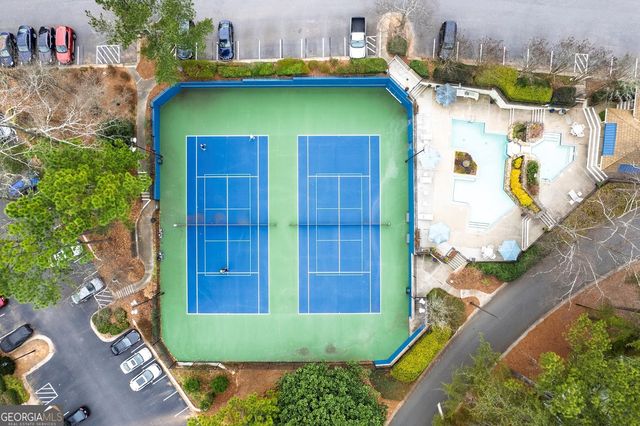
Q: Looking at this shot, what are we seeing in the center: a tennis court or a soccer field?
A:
tennis court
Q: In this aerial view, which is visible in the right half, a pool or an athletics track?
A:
pool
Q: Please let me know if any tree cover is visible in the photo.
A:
Yes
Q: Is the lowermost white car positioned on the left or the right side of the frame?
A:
left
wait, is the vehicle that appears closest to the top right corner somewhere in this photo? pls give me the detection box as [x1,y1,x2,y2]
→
[437,21,456,61]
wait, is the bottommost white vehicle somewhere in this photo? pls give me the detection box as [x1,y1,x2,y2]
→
[128,362,166,394]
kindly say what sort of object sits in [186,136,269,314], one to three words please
tennis court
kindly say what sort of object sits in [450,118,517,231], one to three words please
swimming pool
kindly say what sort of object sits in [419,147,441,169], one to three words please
umbrella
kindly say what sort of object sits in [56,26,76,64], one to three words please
car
